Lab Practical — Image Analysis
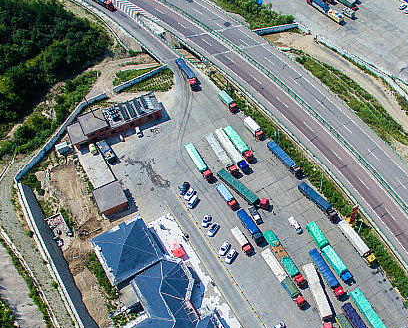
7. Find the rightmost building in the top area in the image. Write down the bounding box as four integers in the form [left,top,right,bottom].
[66,91,163,150]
